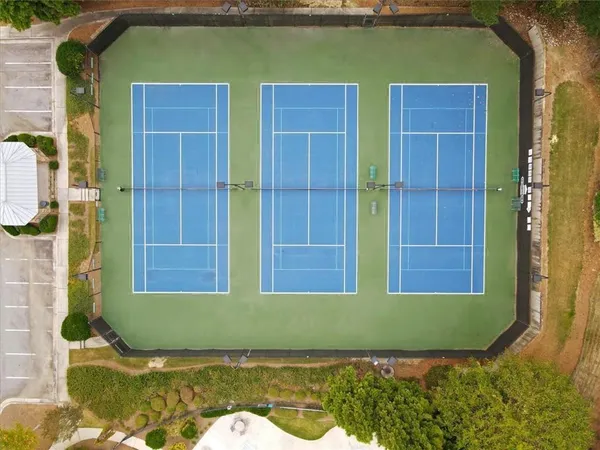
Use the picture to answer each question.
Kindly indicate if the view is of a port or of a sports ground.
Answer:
sports ground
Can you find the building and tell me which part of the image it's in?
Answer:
left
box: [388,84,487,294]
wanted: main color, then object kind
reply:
blue tennis court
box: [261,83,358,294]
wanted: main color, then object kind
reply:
blue tennis court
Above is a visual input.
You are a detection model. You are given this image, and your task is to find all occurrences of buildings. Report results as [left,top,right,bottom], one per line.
[0,142,49,226]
